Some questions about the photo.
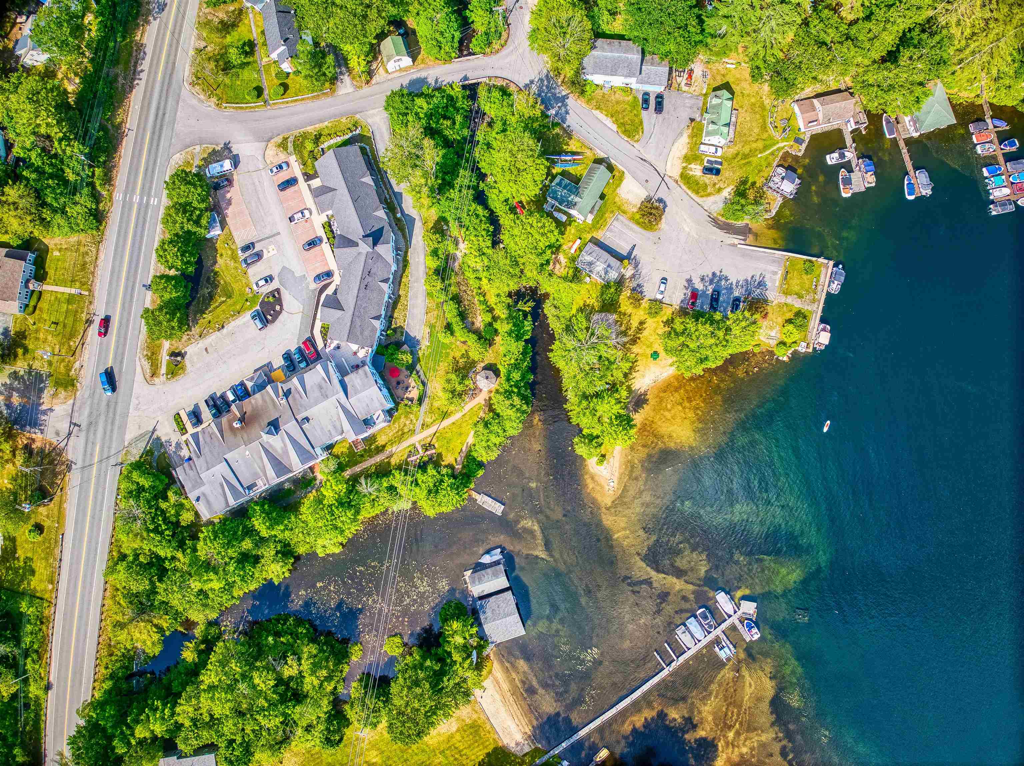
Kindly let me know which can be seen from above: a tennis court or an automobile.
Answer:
automobile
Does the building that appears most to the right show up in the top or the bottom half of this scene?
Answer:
top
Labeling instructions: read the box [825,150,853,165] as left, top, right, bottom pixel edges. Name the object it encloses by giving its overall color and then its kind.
white boat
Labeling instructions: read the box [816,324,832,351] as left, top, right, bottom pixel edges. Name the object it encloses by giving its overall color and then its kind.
white boat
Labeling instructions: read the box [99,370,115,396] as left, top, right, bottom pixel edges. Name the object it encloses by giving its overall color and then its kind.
blue vehicle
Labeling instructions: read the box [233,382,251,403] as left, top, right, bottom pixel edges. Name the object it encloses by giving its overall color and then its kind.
blue car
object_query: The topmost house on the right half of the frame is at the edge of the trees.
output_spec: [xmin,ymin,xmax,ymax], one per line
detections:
[582,38,668,92]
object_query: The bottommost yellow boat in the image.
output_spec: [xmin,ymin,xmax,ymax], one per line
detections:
[592,747,608,765]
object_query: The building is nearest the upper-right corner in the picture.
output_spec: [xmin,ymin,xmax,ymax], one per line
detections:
[906,81,956,134]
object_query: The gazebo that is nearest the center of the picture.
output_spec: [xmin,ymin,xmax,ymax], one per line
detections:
[476,370,497,390]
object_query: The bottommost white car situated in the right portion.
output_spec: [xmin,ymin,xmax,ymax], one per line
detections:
[656,278,668,299]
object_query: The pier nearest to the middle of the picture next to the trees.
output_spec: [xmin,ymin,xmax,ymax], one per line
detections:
[469,489,506,516]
